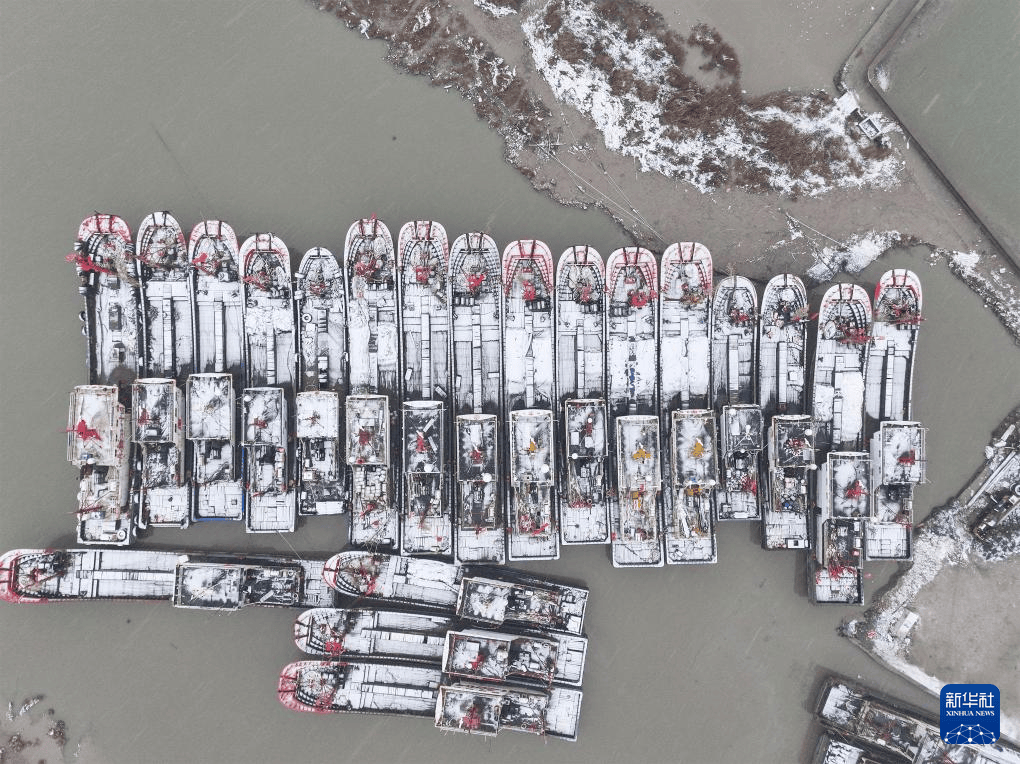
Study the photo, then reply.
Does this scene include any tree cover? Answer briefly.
No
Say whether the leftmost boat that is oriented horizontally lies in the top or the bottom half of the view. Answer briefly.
bottom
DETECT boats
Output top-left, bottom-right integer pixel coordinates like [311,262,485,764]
[58,212,141,543]
[605,246,663,569]
[711,273,768,521]
[863,267,929,561]
[320,552,589,634]
[556,244,611,545]
[0,547,341,613]
[124,209,197,526]
[449,231,505,564]
[292,606,587,688]
[276,658,581,742]
[811,675,1020,764]
[235,232,301,531]
[396,220,452,556]
[807,283,875,605]
[658,241,720,565]
[502,239,559,562]
[296,245,349,515]
[343,216,400,549]
[756,272,817,550]
[184,219,247,521]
